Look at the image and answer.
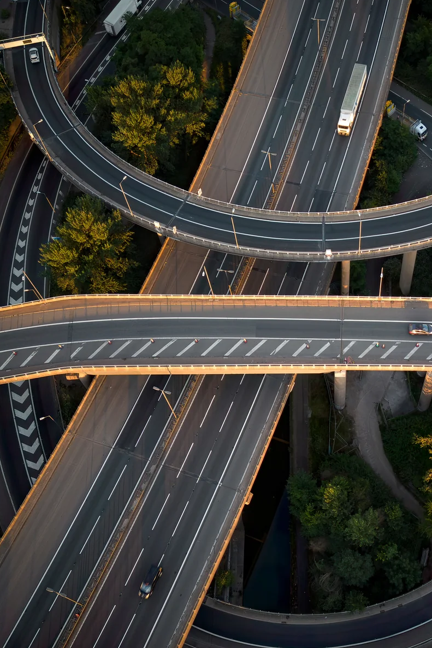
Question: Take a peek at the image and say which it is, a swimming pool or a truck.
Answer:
truck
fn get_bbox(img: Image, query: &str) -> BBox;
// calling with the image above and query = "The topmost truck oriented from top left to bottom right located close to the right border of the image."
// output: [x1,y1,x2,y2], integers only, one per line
[388,104,429,141]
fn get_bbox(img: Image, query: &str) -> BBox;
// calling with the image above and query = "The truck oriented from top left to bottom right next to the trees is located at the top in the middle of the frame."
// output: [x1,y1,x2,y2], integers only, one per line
[228,1,260,34]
